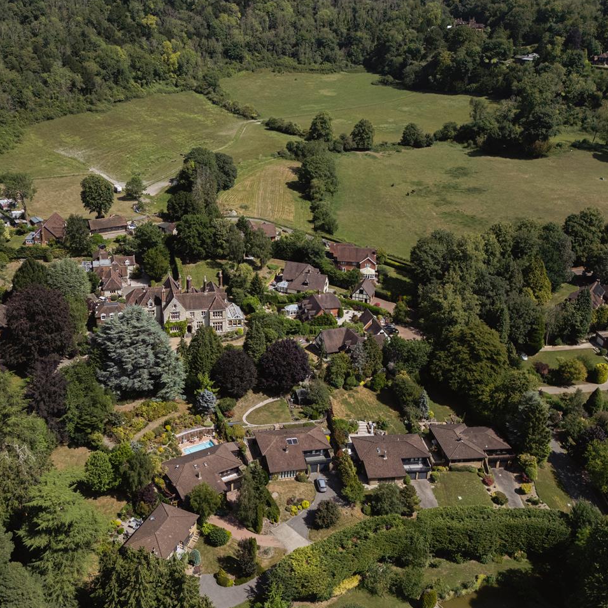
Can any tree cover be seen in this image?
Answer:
Yes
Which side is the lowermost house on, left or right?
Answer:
left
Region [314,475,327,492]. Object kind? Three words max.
vehicle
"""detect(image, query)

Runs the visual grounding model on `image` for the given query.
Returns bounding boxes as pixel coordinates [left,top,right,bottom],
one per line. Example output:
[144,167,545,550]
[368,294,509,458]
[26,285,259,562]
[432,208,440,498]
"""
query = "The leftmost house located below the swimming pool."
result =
[130,499,202,564]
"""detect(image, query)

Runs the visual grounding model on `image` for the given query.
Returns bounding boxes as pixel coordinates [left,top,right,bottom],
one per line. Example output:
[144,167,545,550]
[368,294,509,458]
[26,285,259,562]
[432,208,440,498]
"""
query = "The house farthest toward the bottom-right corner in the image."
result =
[433,419,514,470]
